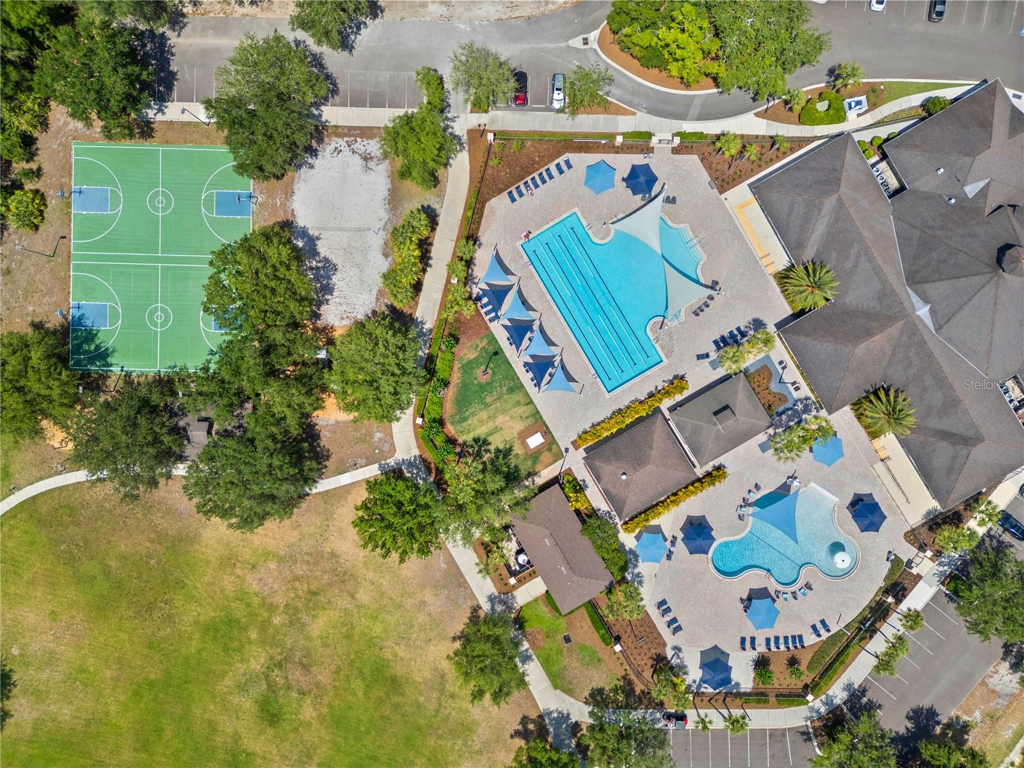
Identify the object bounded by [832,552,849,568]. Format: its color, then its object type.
white fountain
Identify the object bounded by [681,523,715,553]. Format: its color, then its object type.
blue umbrella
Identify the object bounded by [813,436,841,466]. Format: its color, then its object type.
blue umbrella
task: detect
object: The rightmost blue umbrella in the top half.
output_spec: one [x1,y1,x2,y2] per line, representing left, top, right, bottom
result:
[625,166,657,195]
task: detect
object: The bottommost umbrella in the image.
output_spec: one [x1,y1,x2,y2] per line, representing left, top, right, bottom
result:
[700,655,730,689]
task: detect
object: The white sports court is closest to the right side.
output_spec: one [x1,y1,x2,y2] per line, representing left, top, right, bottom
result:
[290,130,391,327]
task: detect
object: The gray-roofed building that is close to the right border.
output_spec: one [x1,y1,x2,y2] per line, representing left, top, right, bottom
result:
[750,77,1024,510]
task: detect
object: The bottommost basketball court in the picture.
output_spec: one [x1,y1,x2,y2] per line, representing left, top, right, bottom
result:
[70,257,250,376]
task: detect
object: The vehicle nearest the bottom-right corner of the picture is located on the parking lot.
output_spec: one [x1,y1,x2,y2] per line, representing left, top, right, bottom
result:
[997,512,1024,539]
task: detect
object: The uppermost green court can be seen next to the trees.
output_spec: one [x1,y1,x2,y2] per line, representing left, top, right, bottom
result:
[71,141,252,261]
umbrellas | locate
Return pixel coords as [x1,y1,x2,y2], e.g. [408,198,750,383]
[681,523,715,553]
[813,436,841,466]
[700,655,730,689]
[744,596,779,628]
[850,501,885,531]
[634,532,667,562]
[625,166,657,195]
[584,162,615,195]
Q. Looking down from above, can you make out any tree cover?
Yes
